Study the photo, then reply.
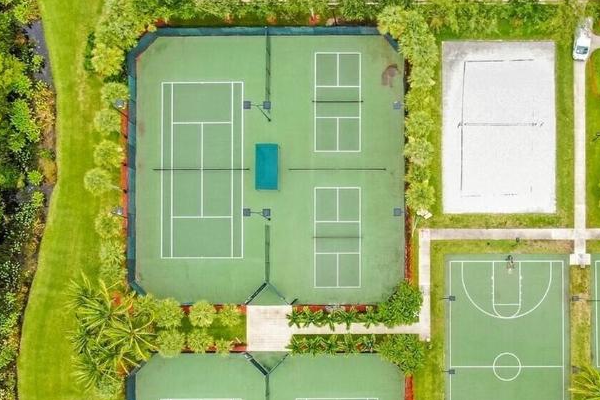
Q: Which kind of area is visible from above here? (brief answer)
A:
sports ground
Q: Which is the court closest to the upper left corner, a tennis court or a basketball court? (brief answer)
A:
tennis court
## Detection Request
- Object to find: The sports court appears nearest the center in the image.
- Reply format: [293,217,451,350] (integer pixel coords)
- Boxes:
[312,187,363,288]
